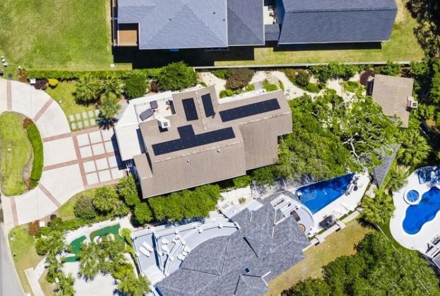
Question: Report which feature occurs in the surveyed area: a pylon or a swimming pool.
swimming pool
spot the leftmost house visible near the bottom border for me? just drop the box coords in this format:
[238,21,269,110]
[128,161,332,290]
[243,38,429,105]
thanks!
[125,189,319,296]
